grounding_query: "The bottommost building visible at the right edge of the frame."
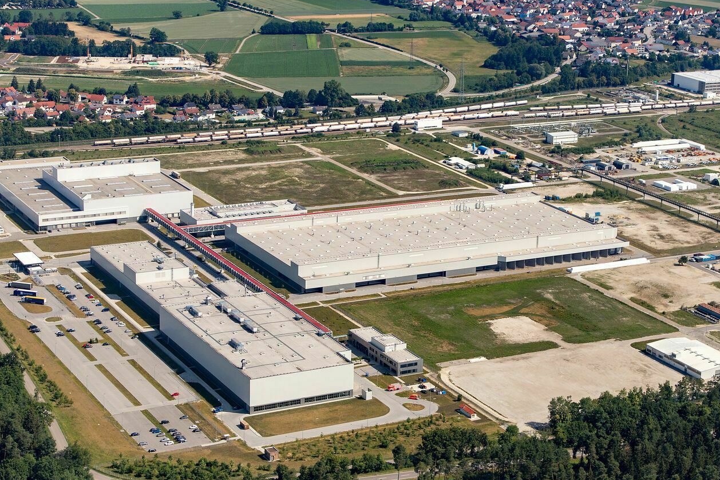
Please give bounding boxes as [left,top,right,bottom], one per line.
[631,331,720,379]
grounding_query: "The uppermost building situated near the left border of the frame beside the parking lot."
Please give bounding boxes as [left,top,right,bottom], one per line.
[0,158,192,231]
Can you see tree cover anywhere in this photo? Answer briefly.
Yes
